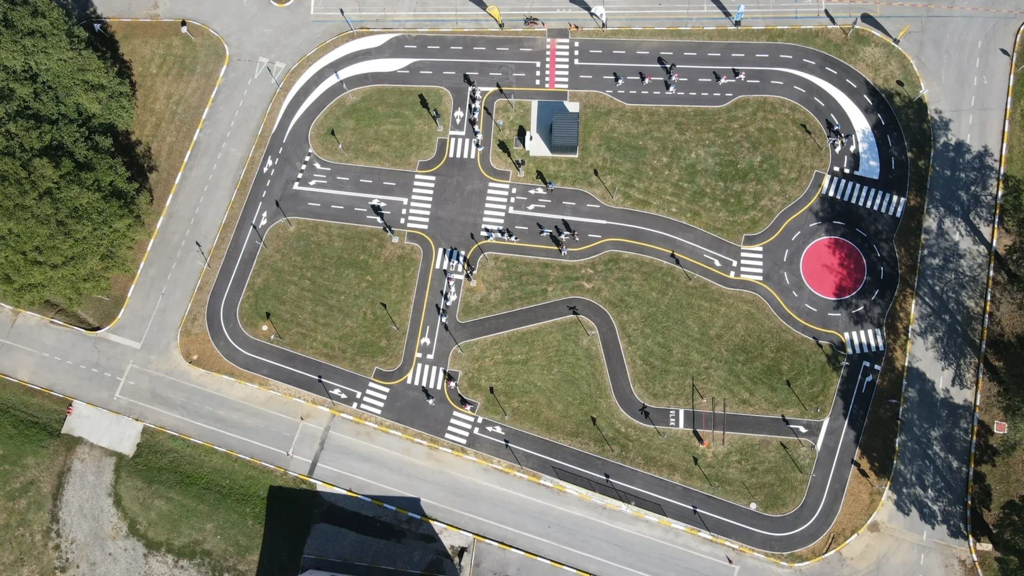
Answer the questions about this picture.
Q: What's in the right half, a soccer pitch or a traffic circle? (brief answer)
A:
traffic circle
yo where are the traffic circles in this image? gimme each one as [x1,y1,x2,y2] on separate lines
[784,221,883,316]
